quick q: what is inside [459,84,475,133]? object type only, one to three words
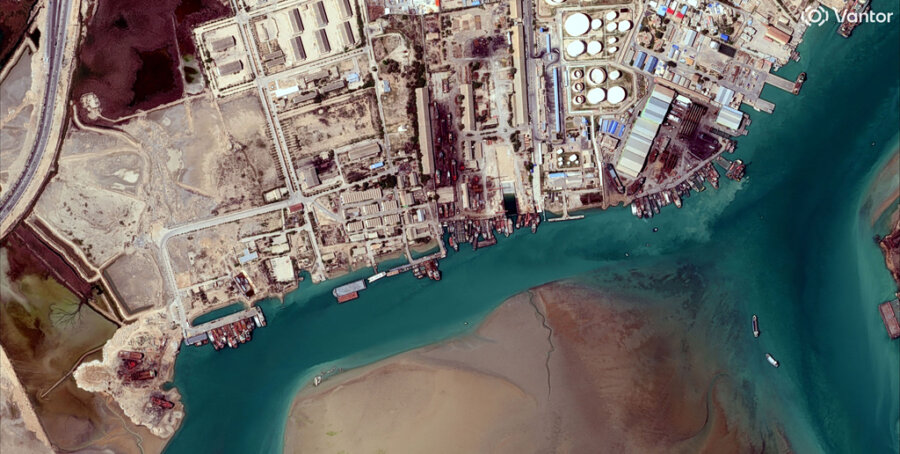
building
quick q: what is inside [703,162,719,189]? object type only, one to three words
vessel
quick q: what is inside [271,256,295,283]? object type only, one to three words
building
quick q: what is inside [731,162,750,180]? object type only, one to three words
ship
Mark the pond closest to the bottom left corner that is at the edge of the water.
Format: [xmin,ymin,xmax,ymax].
[0,235,157,454]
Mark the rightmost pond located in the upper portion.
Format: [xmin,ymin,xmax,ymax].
[69,0,234,146]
